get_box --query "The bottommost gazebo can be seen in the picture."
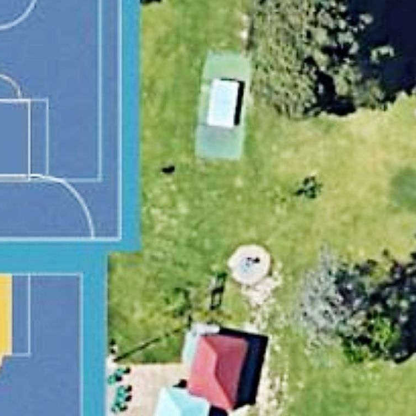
[155,389,209,416]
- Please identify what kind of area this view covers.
sports ground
